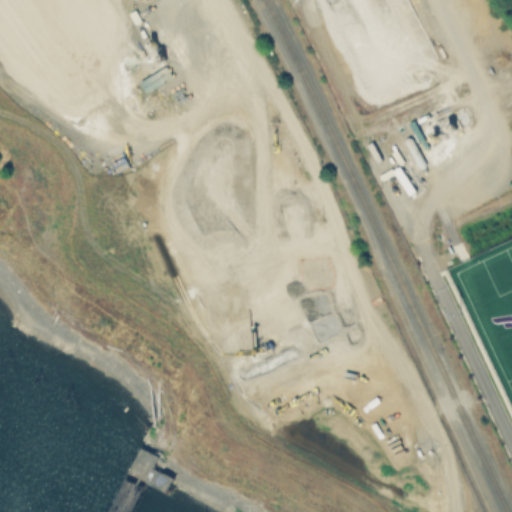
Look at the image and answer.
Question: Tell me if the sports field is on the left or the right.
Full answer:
The sports field appears in the right half of the scene.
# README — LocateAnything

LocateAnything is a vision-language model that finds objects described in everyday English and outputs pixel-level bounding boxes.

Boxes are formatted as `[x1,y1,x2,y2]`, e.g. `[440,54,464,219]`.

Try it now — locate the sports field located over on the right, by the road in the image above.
[449,240,512,404]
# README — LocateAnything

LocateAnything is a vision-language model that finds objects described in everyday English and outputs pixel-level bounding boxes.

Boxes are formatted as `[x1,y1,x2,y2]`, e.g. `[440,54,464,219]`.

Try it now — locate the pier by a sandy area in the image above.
[104,449,174,512]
